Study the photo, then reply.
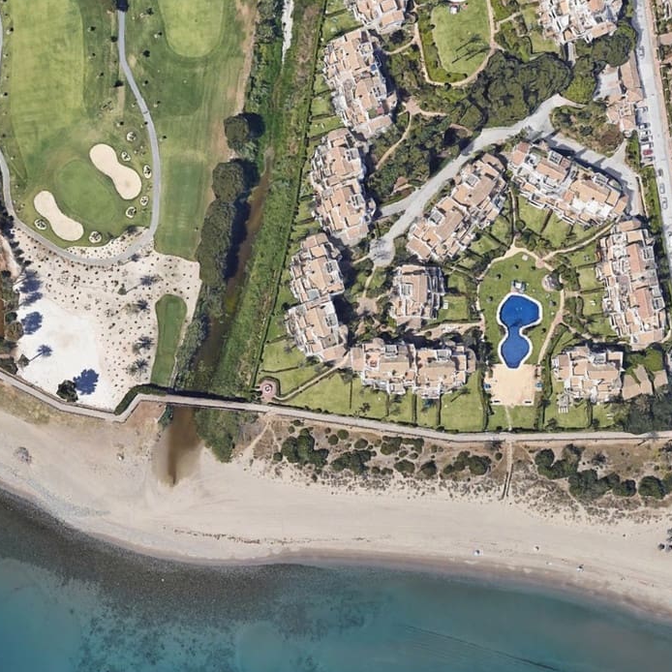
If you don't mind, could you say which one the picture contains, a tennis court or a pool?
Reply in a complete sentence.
This aerial view contains a pool.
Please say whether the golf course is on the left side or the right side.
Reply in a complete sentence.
The golf course appears in the left half of the scene.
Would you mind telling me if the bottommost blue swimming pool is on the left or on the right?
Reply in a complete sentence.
The bottommost blue swimming pool is on the right side of the image.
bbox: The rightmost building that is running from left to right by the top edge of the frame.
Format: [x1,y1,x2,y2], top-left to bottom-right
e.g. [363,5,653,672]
[538,0,629,45]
